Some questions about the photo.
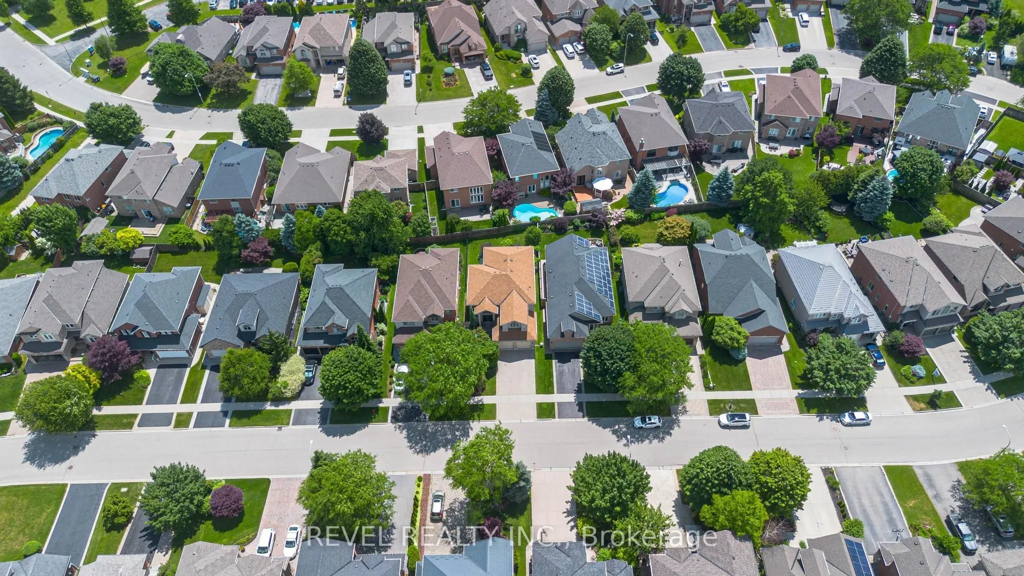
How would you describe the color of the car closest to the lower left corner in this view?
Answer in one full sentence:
In this view, the car closest to the lower left corner is white.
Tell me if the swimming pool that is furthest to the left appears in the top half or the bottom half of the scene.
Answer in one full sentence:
Seen from above, the swimming pool that is furthest to the left lies in the top half of the view.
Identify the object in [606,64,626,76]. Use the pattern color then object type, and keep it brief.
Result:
white vehicle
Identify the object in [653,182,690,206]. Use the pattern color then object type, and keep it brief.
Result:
blue swimming pool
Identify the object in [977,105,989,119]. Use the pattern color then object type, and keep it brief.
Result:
white vehicle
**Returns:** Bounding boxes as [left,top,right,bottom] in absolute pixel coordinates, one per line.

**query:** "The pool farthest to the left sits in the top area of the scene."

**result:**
[27,127,66,159]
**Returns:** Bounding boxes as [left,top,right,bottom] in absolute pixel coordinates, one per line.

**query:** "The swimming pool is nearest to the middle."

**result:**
[512,203,559,222]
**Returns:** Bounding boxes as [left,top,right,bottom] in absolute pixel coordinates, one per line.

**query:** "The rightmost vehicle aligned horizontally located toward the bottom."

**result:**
[838,412,874,427]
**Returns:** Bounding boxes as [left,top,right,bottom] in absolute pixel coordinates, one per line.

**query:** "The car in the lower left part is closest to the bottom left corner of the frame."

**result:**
[254,522,276,558]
